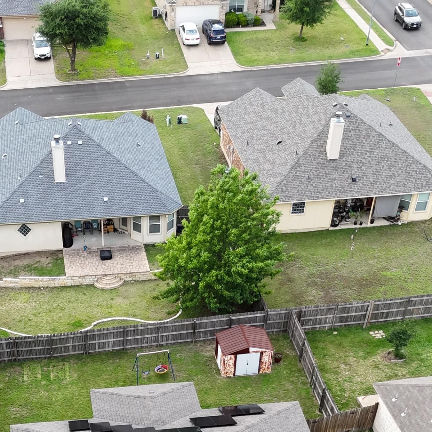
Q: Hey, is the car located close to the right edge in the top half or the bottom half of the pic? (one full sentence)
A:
It is in the top half that the car located close to the right edge appears.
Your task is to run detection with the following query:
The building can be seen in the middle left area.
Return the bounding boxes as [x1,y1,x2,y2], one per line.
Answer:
[0,107,183,257]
